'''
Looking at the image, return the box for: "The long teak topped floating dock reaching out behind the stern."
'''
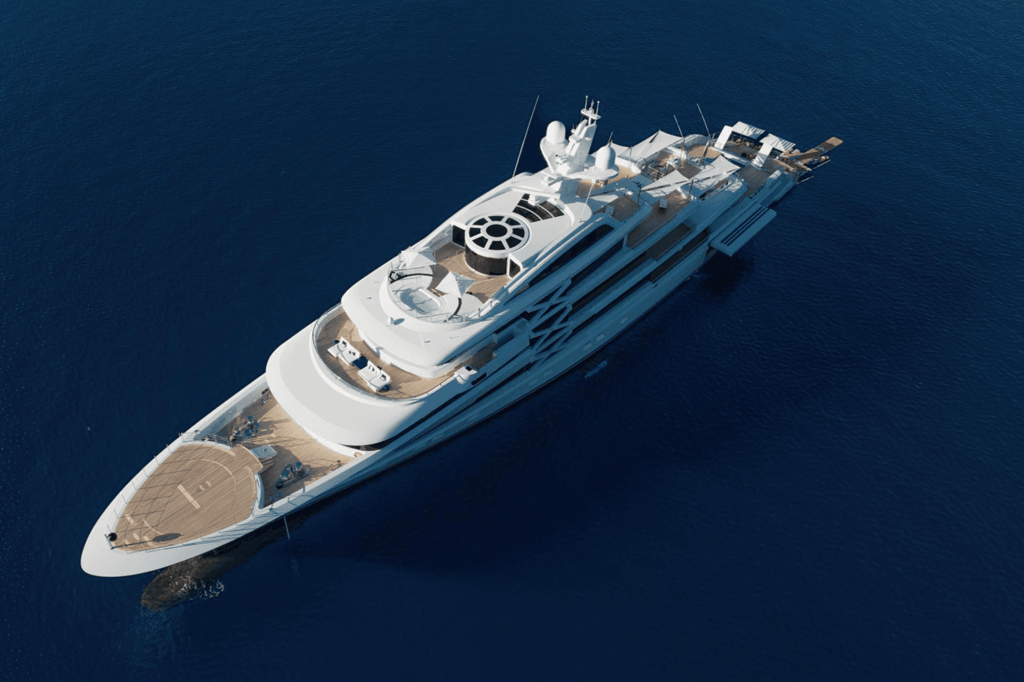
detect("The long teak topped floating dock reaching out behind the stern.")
[792,138,843,166]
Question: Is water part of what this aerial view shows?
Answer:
Yes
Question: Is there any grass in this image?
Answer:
No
